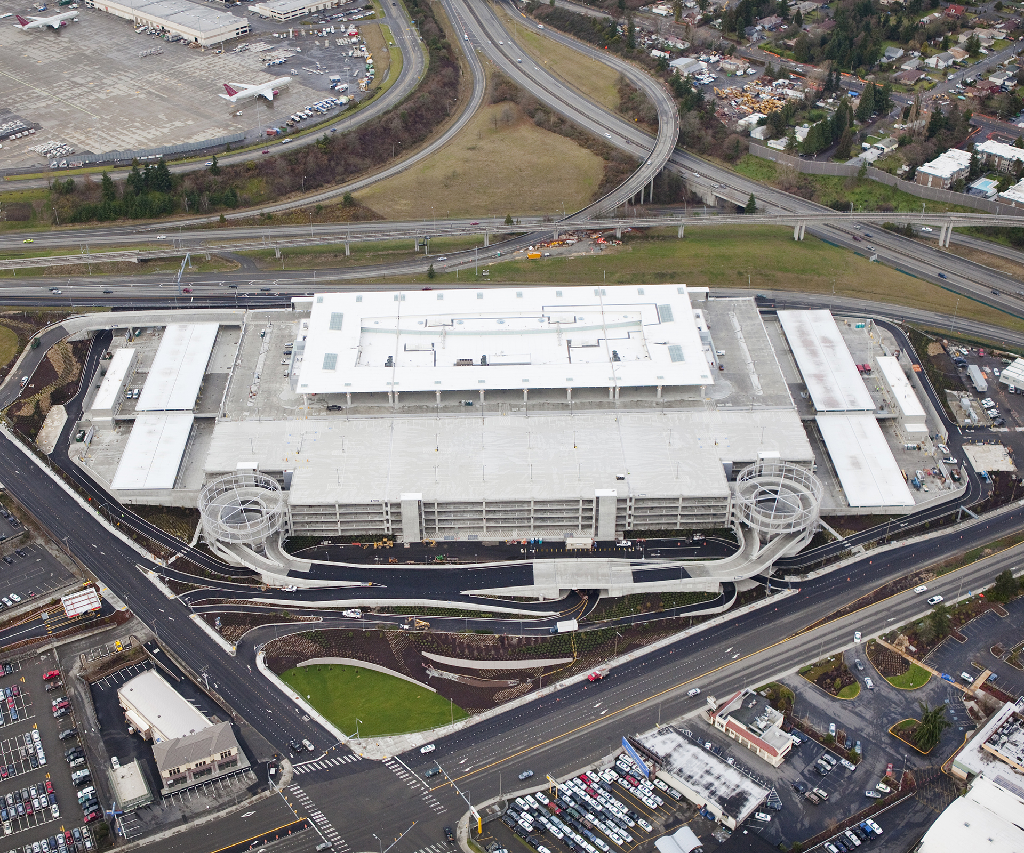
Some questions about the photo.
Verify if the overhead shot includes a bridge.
Yes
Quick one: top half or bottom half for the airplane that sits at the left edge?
top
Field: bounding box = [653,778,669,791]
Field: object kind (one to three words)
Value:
vehicle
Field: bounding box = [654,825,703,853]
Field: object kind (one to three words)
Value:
tent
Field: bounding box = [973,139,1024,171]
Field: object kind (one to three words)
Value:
building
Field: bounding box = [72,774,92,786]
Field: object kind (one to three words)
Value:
vehicle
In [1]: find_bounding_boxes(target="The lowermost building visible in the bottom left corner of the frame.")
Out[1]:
[110,761,154,820]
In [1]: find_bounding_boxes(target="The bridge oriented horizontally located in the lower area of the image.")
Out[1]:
[289,557,721,597]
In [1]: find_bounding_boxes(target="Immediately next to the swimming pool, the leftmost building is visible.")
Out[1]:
[914,148,971,191]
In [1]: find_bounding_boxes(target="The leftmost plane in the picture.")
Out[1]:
[9,14,82,34]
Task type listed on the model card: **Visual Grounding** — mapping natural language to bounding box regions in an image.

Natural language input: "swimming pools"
[970,177,1000,195]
